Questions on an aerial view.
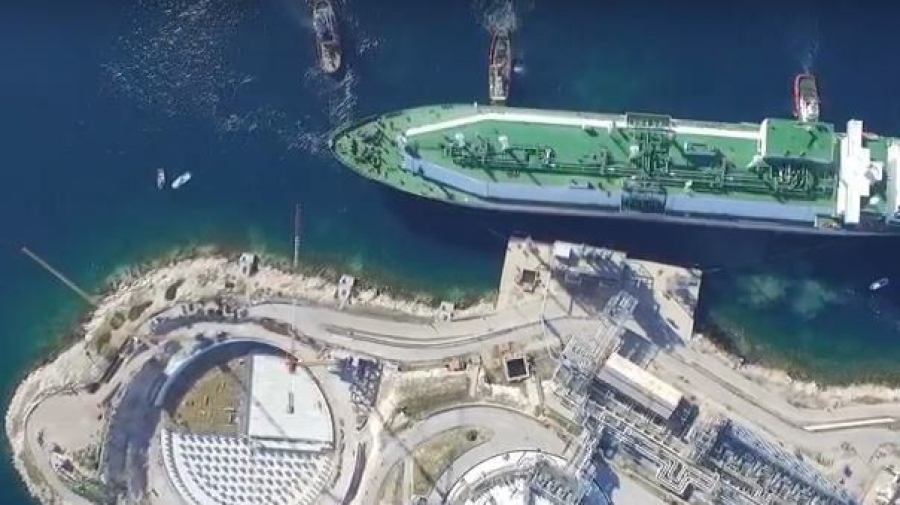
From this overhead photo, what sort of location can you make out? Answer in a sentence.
What you see here is a port.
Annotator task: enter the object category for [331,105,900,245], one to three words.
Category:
ship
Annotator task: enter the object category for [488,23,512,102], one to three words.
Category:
boat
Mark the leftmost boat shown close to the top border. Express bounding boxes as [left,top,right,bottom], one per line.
[305,0,339,76]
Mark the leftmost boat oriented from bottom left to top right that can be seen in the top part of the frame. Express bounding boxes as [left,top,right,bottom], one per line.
[168,171,190,190]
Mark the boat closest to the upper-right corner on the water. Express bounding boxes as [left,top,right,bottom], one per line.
[795,69,825,122]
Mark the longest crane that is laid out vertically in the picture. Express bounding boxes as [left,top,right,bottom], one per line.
[283,201,345,411]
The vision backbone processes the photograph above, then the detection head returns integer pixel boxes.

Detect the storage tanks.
[156,335,340,505]
[439,444,609,505]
